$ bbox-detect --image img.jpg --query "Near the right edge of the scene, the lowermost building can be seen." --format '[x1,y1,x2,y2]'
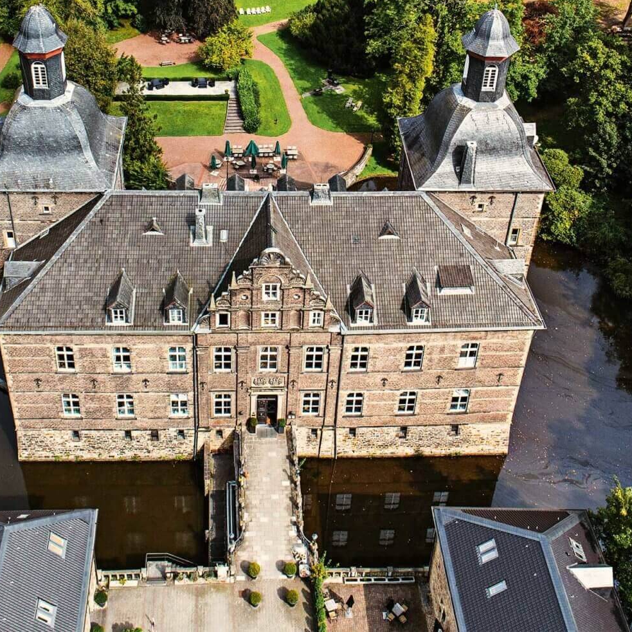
[429,503,631,632]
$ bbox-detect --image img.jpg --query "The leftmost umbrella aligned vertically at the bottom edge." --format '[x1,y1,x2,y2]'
[343,590,358,621]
